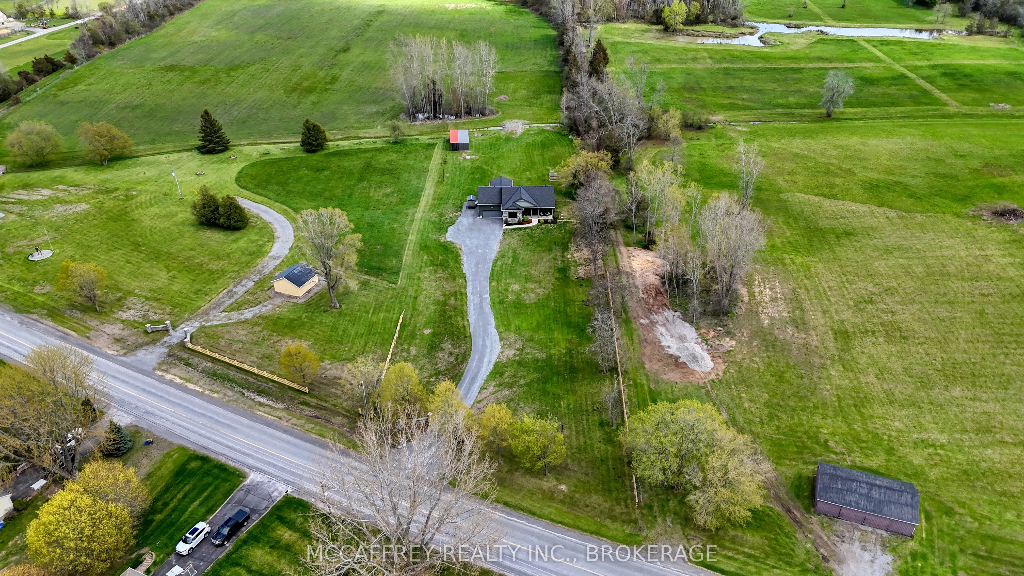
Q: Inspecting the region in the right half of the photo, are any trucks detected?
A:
No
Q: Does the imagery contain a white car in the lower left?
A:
Yes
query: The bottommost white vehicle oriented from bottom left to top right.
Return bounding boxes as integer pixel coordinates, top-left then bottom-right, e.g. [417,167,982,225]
[175,521,211,555]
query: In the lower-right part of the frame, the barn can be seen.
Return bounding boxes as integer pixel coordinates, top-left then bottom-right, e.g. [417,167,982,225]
[815,455,920,537]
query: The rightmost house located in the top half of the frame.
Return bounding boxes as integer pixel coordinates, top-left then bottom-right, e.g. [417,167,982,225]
[477,175,556,221]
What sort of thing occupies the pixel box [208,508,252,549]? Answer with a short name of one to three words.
truck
